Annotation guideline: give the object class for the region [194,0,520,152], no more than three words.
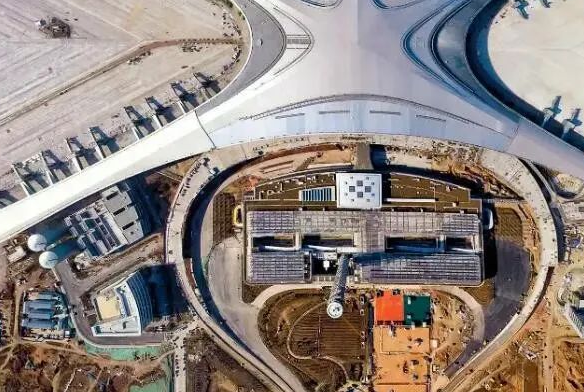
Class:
building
